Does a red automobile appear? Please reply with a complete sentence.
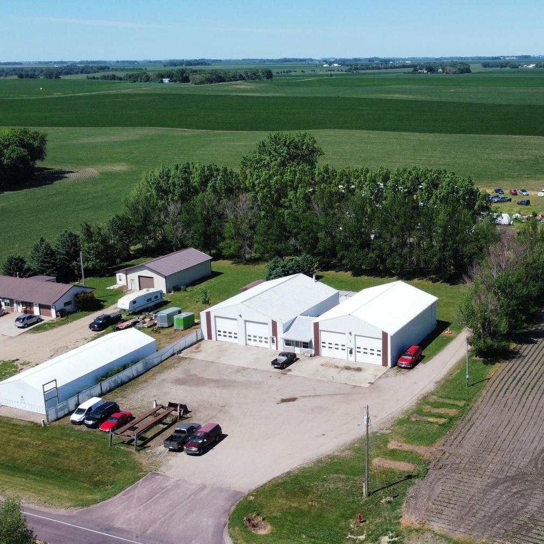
Yes, the image includes a red automobile.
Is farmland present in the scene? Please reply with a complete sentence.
Yes, some farmland is visible.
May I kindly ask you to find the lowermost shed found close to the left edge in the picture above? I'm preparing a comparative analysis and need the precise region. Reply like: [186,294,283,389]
[0,329,153,414]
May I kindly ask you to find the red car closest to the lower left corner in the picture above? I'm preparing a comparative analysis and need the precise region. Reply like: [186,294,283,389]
[99,410,133,430]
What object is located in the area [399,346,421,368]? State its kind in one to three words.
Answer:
car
